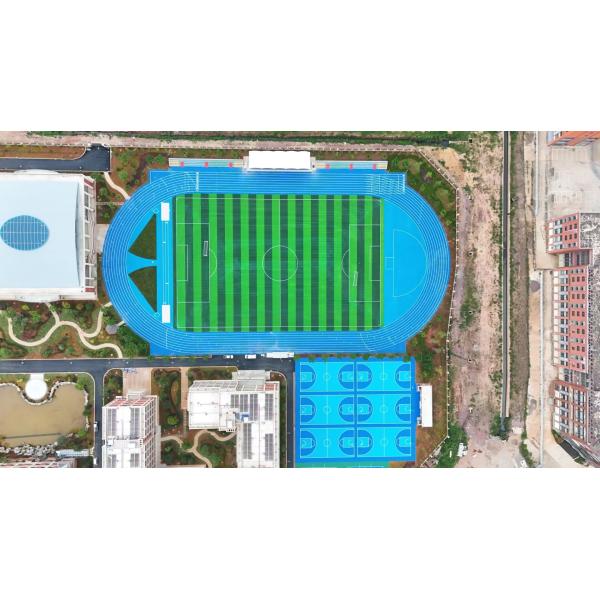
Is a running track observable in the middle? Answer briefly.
Yes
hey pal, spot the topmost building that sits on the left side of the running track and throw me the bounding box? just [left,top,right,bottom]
[0,169,98,302]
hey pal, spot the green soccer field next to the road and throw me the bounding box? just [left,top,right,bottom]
[174,194,384,332]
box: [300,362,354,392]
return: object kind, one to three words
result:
basketball court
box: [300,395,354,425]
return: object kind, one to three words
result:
basketball court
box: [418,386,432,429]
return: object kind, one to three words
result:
building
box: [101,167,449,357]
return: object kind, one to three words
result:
running track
